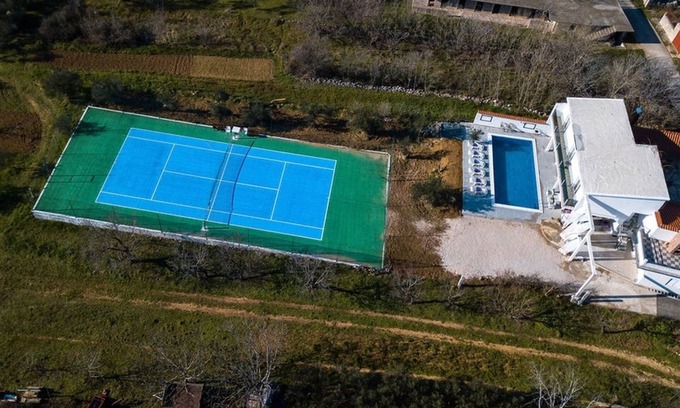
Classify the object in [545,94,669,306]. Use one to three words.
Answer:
house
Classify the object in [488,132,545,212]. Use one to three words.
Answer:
swimming pool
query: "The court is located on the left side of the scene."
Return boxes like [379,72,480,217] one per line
[31,104,390,270]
